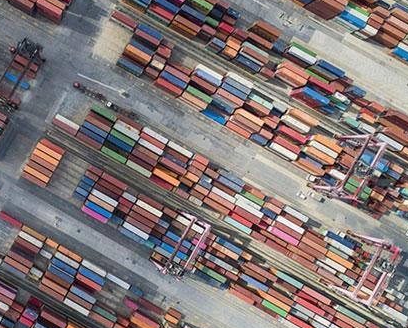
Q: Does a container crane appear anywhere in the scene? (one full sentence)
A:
Yes, a container crane is visible in the scene.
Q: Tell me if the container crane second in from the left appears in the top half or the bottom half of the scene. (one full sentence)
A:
It is in the bottom half that the container crane second in from the left appears.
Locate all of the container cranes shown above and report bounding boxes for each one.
[309,134,394,202]
[148,208,215,285]
[318,228,404,307]
[0,40,46,112]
